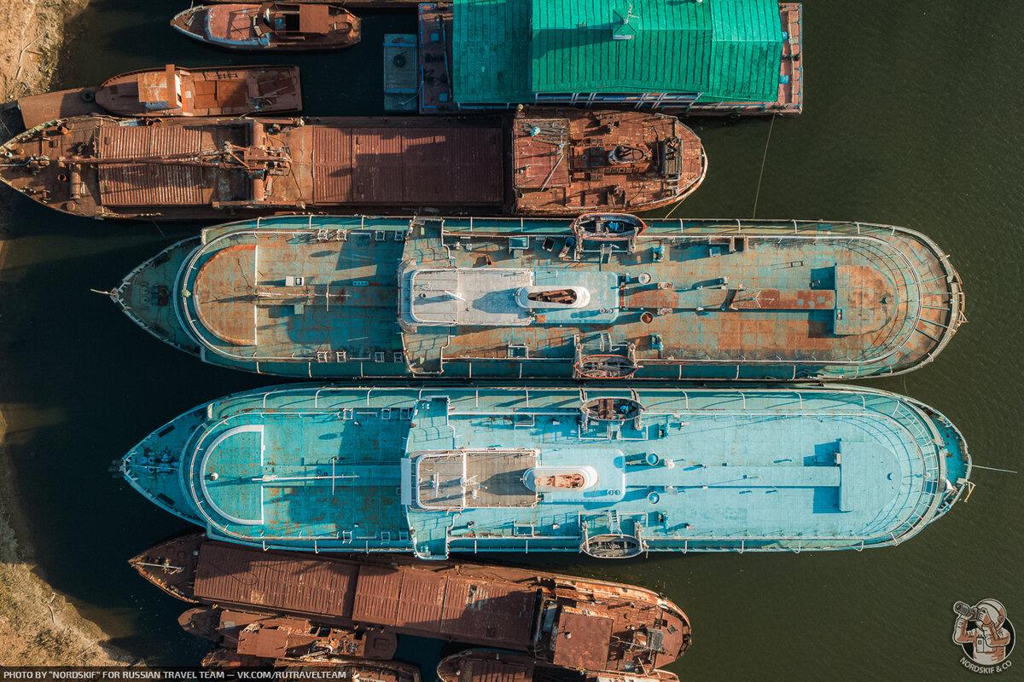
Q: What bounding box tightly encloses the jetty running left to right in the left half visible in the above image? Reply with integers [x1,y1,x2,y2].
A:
[18,86,125,128]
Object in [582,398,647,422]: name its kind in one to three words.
boat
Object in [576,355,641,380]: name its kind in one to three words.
boat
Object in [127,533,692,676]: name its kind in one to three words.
ship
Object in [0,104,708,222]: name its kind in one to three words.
ship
